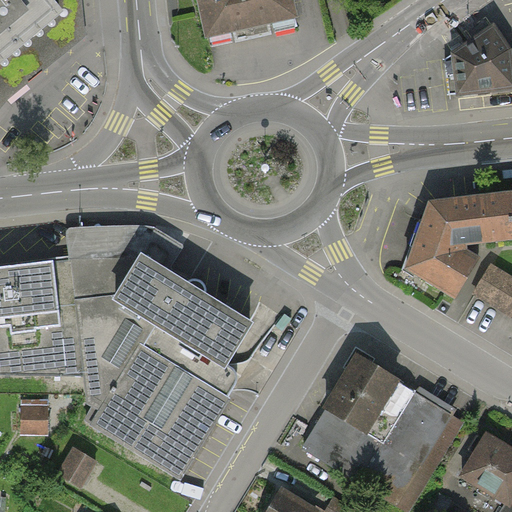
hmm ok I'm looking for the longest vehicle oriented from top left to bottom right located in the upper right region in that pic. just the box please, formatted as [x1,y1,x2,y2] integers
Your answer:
[438,1,460,30]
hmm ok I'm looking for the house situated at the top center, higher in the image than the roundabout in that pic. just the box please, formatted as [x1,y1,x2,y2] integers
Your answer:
[204,0,297,48]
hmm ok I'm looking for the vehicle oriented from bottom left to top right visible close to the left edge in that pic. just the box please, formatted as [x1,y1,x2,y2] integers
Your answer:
[2,126,19,148]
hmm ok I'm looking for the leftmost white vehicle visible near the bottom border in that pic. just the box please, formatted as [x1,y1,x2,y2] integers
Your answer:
[170,481,204,501]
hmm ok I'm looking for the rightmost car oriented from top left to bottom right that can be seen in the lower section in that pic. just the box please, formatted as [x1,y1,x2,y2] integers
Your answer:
[307,462,328,480]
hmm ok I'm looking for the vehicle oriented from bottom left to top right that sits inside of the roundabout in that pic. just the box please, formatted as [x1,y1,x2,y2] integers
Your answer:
[210,122,232,139]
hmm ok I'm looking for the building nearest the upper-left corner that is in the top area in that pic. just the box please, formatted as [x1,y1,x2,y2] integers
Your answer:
[0,0,70,68]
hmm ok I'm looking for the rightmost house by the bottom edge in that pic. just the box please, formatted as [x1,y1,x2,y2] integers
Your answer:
[459,432,512,510]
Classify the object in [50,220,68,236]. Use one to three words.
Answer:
car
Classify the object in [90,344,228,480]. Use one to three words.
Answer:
building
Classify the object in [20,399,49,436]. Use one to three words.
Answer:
house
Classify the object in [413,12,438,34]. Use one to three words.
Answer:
truck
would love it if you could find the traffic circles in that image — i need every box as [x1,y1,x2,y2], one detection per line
[185,94,345,246]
